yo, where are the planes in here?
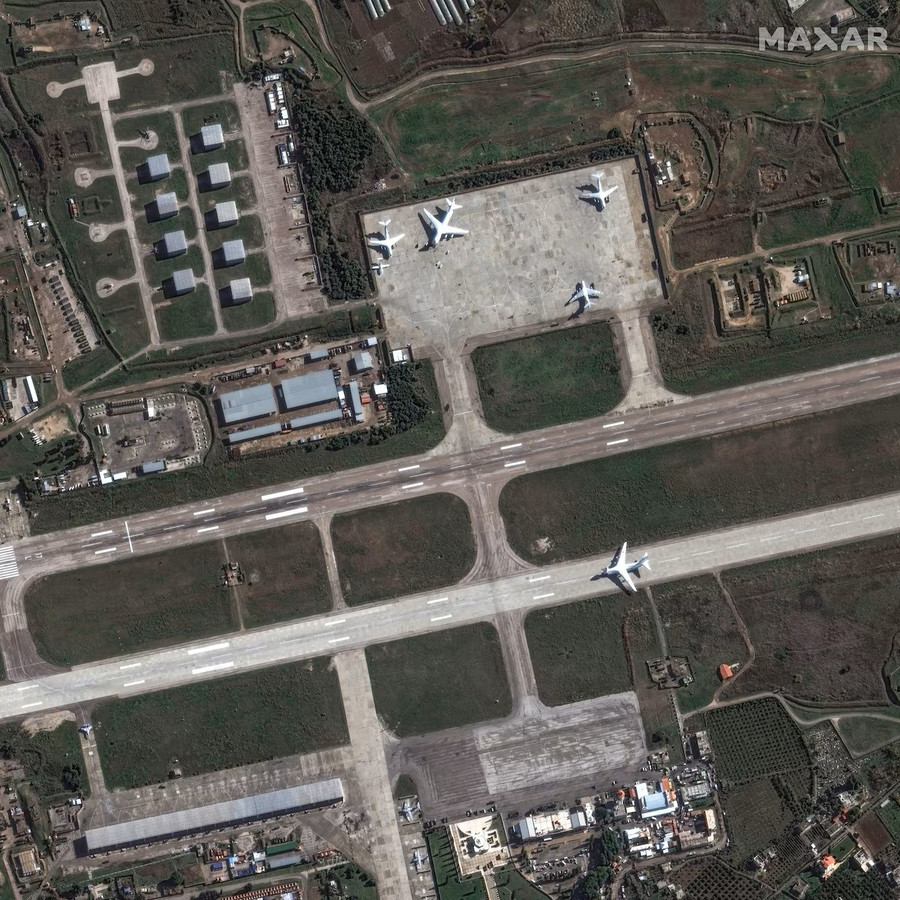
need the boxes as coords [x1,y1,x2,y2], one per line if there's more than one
[583,169,617,207]
[425,195,470,243]
[81,722,91,737]
[370,218,404,257]
[370,258,388,275]
[411,849,435,874]
[570,281,605,311]
[606,540,653,590]
[402,798,425,823]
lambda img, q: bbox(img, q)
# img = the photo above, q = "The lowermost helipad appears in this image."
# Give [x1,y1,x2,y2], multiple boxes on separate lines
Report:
[96,275,137,296]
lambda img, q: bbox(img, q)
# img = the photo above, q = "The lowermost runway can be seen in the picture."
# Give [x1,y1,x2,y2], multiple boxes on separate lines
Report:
[0,493,900,727]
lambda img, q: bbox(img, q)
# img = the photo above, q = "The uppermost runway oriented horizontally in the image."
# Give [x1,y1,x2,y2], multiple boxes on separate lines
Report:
[0,354,900,583]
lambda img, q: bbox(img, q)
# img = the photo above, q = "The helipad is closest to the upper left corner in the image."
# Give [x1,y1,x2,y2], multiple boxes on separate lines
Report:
[46,77,84,98]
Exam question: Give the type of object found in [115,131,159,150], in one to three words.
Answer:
helipad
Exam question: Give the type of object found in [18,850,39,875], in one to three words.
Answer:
building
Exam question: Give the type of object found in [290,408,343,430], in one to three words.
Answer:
shed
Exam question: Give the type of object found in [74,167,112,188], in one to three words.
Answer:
helipad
